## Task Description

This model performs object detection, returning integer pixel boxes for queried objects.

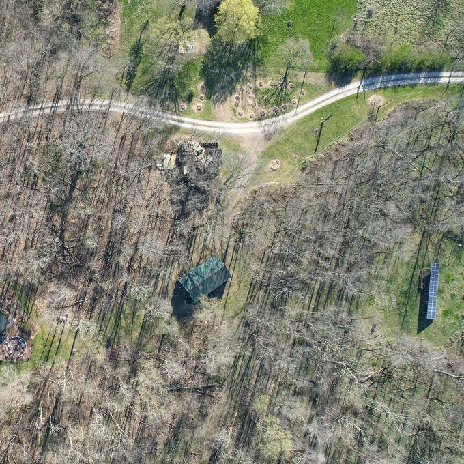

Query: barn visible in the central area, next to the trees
[176,253,230,303]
